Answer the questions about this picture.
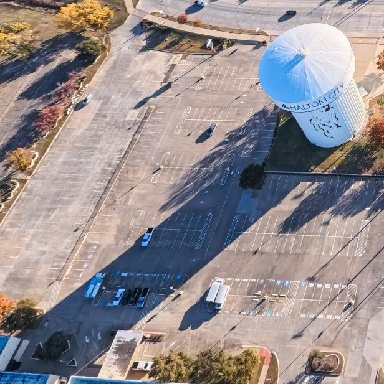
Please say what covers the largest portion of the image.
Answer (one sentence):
The largest share of the image is taken up by paved ground.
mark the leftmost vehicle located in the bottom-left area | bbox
[77,271,106,300]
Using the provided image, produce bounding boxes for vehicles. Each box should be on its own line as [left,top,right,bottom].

[128,288,140,307]
[77,271,106,300]
[207,123,216,135]
[212,279,231,310]
[84,93,95,105]
[121,289,132,307]
[200,277,223,306]
[112,288,125,307]
[130,361,153,370]
[193,0,208,8]
[140,228,153,247]
[137,286,151,308]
